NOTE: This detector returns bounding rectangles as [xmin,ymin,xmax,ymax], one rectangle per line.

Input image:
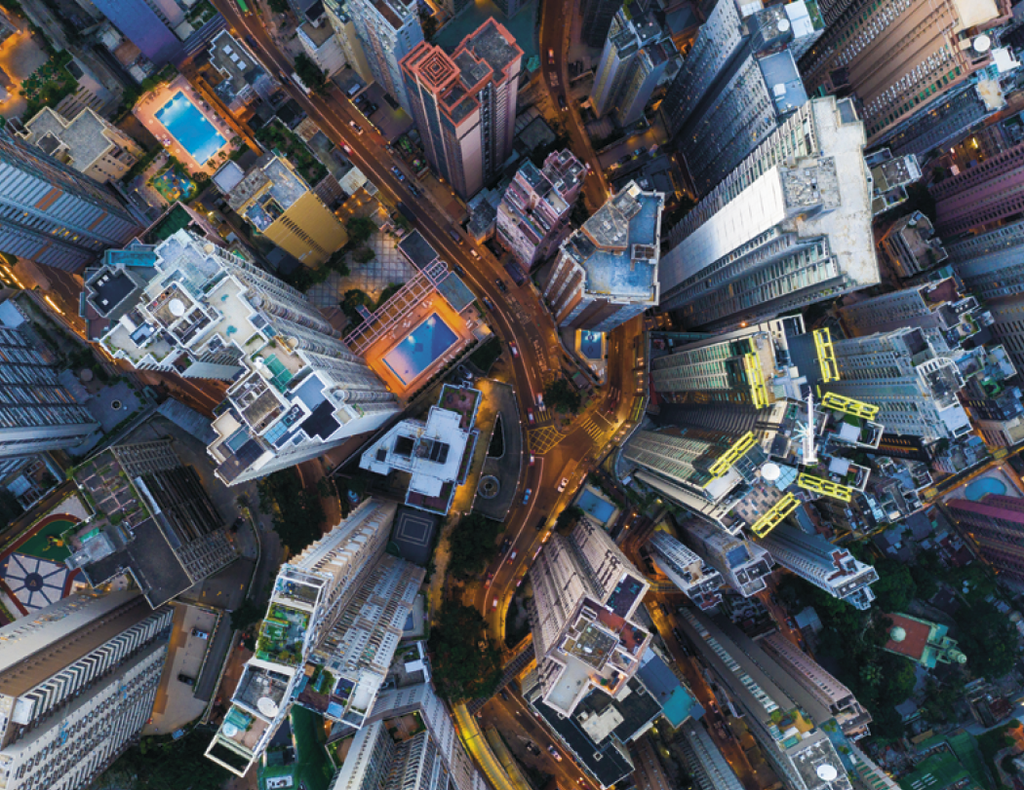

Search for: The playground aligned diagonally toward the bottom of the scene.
[0,491,90,622]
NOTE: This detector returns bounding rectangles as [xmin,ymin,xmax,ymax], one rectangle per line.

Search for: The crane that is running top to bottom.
[794,379,818,463]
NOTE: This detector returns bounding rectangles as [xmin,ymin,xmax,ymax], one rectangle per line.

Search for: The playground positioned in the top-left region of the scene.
[152,164,194,203]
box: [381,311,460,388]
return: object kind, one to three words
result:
swimming pool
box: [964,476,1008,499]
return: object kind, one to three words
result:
swimming pool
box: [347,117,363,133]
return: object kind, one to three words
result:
vehicle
